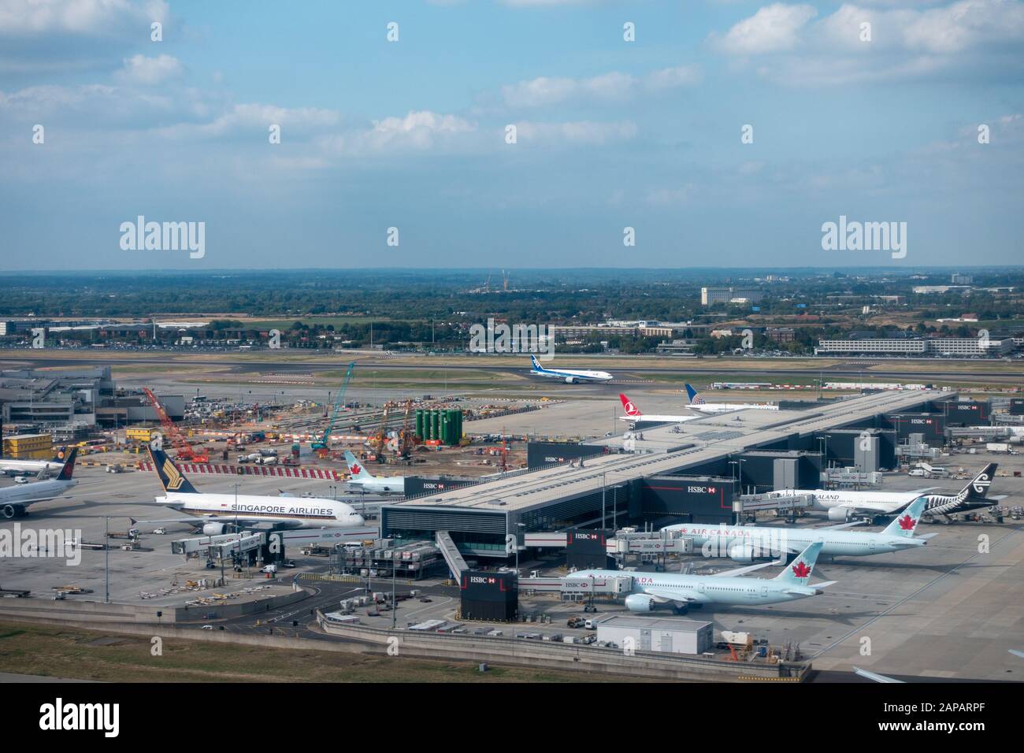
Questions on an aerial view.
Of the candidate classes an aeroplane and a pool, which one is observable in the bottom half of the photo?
aeroplane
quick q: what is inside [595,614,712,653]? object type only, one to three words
shed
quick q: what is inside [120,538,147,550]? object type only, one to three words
vehicle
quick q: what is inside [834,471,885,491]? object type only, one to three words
jet bridge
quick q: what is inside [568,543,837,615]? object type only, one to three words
airplane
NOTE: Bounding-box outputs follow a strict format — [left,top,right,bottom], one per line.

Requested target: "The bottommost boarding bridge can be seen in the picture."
[530,578,644,619]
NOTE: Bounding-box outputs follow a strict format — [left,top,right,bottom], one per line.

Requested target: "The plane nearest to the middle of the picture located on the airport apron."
[526,353,613,384]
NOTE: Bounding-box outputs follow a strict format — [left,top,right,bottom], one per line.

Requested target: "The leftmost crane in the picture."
[140,387,213,462]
